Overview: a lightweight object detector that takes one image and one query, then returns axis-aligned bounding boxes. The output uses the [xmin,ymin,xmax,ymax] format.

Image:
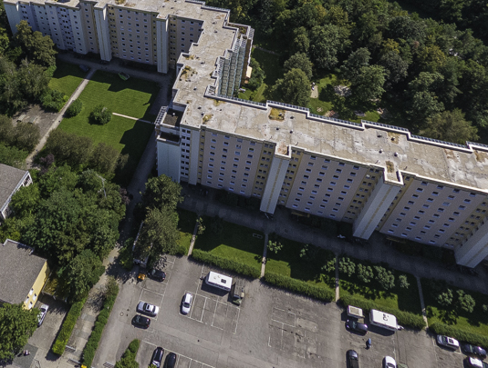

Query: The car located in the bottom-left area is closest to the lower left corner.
[34,304,48,326]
